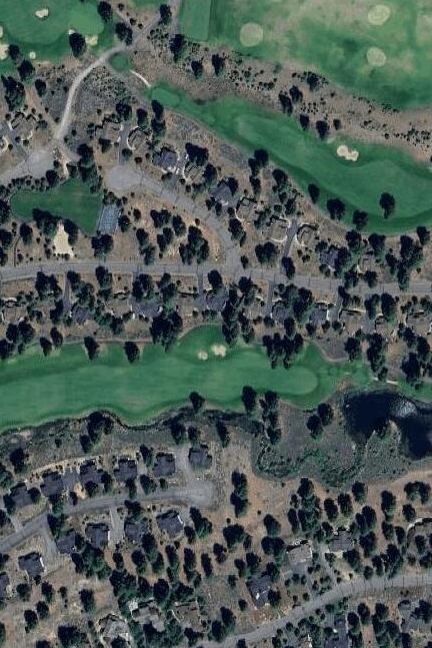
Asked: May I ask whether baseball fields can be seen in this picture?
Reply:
No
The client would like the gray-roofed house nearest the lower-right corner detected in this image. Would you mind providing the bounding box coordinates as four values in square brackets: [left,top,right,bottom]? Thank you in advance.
[397,611,423,636]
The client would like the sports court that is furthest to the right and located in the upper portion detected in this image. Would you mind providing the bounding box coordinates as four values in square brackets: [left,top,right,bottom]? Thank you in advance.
[98,205,120,234]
